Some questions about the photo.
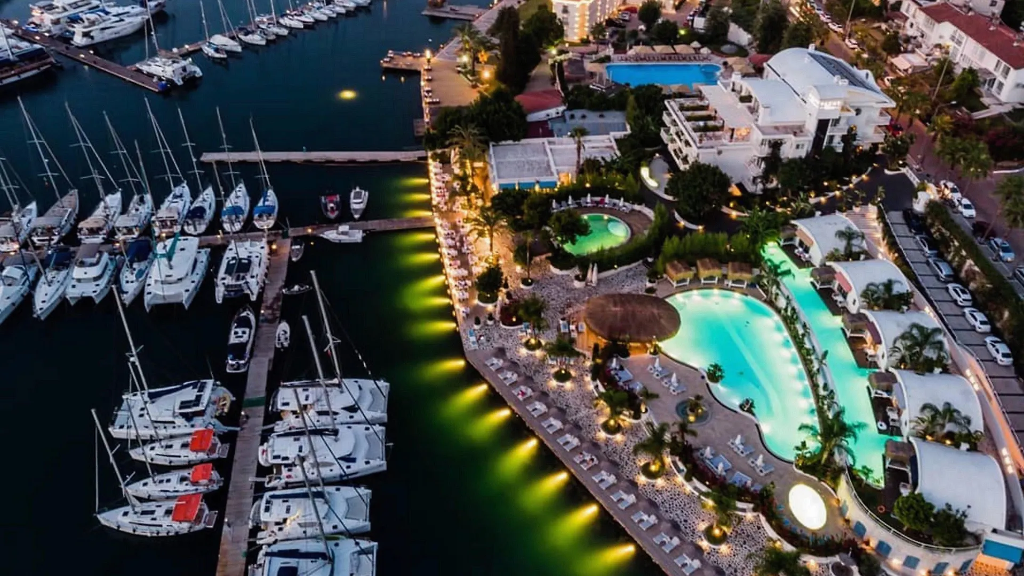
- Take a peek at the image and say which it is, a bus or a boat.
boat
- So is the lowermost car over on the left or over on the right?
right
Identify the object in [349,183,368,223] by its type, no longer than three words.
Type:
boat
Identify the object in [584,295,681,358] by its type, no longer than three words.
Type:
building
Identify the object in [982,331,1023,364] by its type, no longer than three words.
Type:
car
